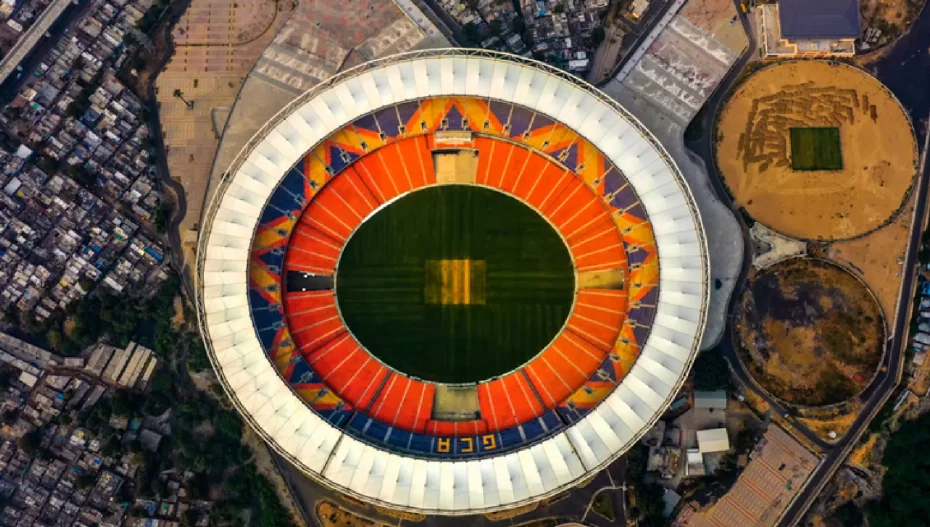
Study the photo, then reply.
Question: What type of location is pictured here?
sports ground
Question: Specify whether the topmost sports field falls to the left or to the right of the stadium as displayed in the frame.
on its right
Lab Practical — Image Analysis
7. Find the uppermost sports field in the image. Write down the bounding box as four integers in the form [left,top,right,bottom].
[715,57,918,242]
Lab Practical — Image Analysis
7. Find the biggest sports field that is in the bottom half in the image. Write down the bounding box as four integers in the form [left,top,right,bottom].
[734,257,887,406]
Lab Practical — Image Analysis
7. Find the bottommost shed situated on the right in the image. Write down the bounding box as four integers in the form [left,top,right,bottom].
[662,488,684,515]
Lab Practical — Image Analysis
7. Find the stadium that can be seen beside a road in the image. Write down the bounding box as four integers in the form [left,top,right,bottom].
[196,46,710,515]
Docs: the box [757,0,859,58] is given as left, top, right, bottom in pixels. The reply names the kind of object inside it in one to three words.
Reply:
building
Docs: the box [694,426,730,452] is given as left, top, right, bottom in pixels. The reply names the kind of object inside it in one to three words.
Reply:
shed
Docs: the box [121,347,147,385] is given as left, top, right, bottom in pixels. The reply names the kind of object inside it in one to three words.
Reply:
shed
